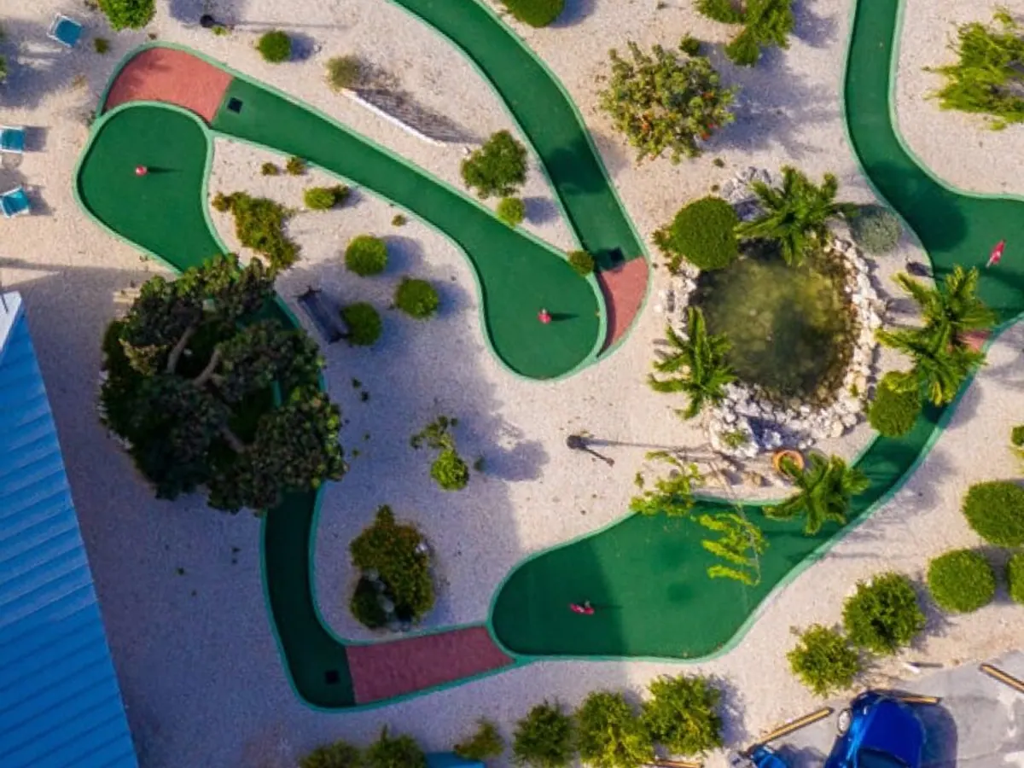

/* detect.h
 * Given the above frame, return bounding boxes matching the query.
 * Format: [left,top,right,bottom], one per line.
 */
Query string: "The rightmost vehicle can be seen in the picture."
[827,687,917,768]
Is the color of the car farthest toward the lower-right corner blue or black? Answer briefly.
blue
